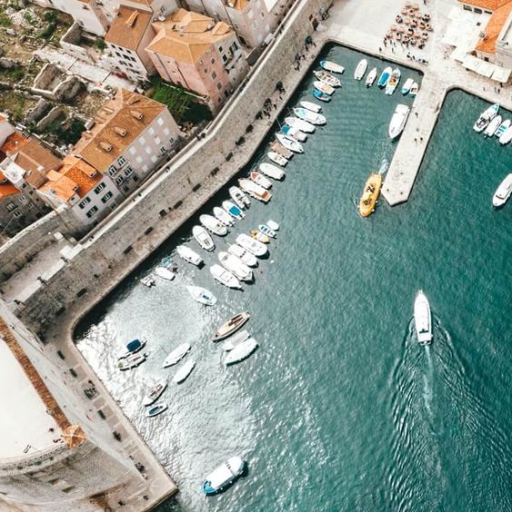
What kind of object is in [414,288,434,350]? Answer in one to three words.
boat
